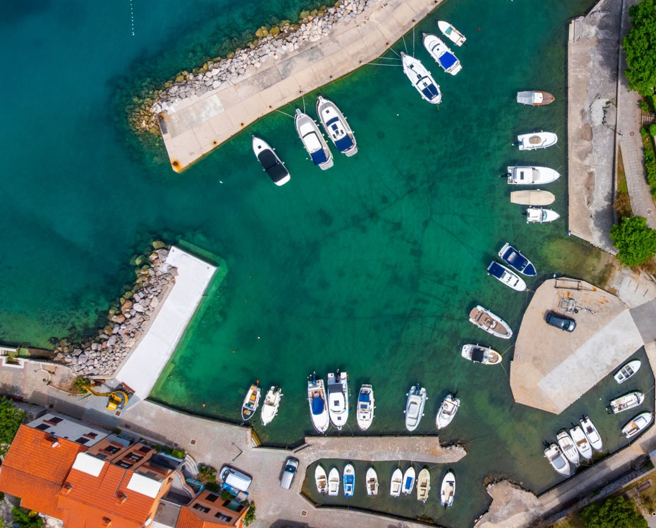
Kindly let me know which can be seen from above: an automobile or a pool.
automobile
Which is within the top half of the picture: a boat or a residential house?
boat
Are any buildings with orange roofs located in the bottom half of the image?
Yes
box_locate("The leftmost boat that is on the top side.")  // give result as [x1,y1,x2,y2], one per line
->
[242,124,290,189]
